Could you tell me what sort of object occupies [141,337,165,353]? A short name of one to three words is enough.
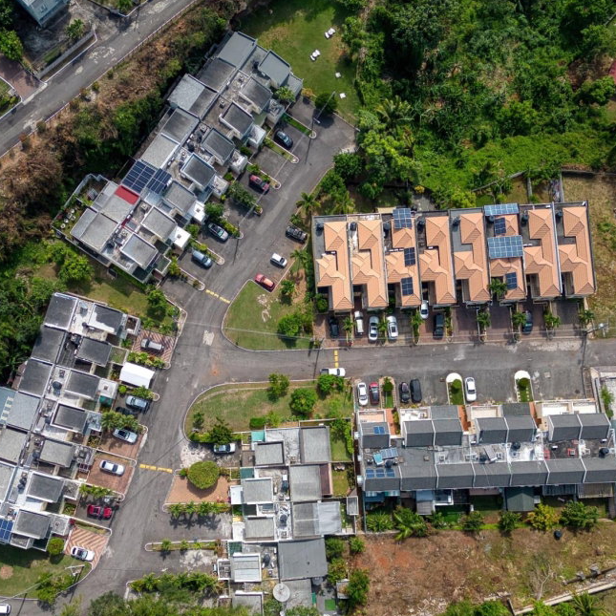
car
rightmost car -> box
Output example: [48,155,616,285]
[521,311,534,334]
